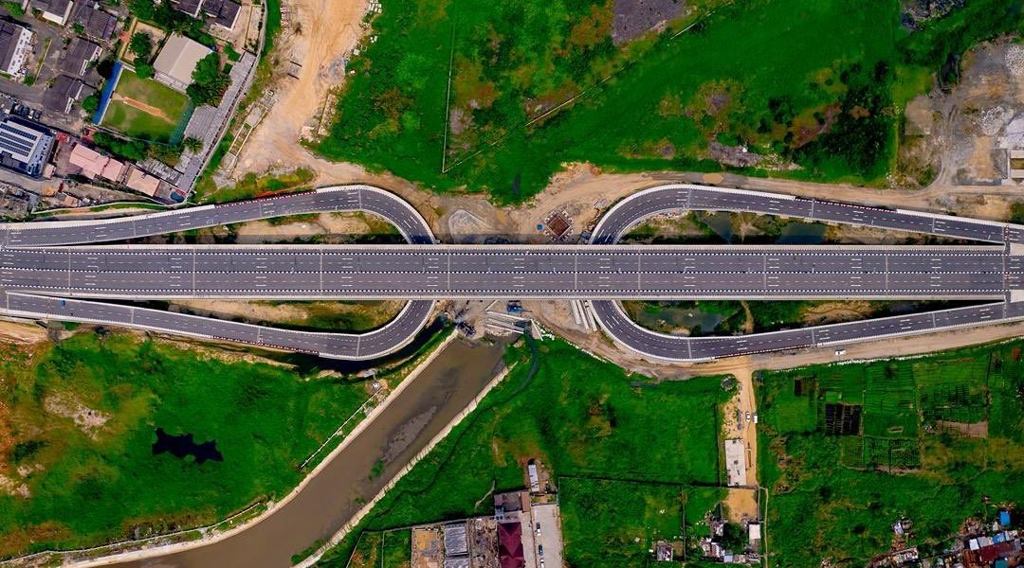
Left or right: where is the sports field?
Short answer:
left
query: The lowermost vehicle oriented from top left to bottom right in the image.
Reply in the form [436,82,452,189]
[454,314,474,337]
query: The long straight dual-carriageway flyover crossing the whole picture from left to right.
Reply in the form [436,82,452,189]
[0,224,1024,321]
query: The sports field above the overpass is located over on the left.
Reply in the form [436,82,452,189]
[104,69,194,143]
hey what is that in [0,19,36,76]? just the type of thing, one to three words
building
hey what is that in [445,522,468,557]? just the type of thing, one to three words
house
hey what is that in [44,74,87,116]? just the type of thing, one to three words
house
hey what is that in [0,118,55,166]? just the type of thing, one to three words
building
